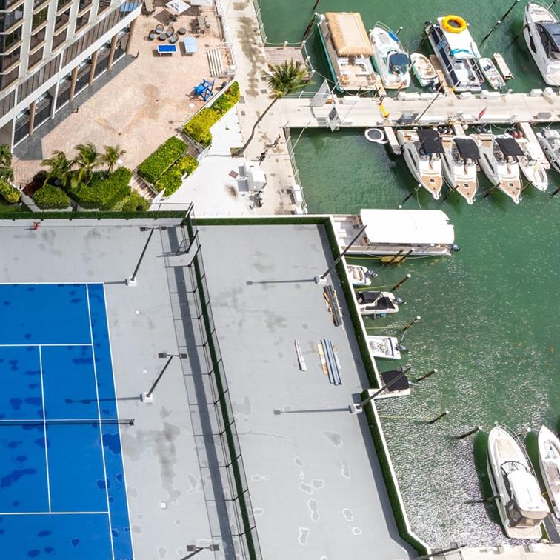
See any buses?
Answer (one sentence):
No, there appears to be no bus in this shot.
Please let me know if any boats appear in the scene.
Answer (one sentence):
Yes, there's a boat down there.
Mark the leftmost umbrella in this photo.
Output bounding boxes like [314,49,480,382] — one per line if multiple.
[164,0,191,25]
